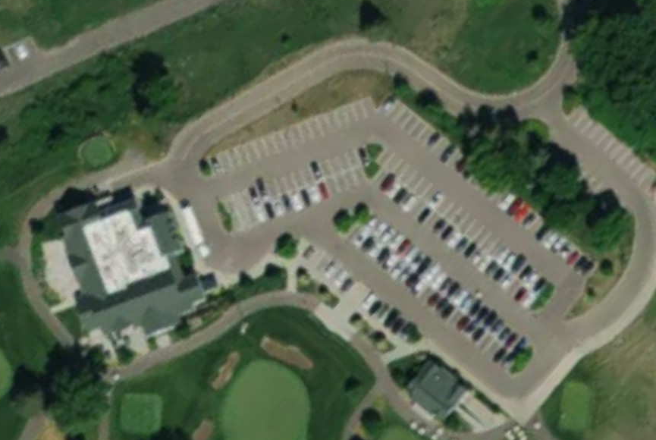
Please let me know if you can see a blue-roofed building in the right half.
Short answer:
No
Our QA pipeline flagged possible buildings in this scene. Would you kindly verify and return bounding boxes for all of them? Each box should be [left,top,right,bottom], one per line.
[408,357,470,420]
[60,198,217,337]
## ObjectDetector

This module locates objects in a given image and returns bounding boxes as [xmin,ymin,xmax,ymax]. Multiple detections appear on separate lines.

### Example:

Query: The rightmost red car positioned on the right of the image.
[566,250,580,266]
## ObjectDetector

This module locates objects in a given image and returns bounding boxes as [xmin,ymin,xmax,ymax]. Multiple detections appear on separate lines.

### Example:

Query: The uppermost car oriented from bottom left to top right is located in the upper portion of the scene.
[383,98,397,115]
